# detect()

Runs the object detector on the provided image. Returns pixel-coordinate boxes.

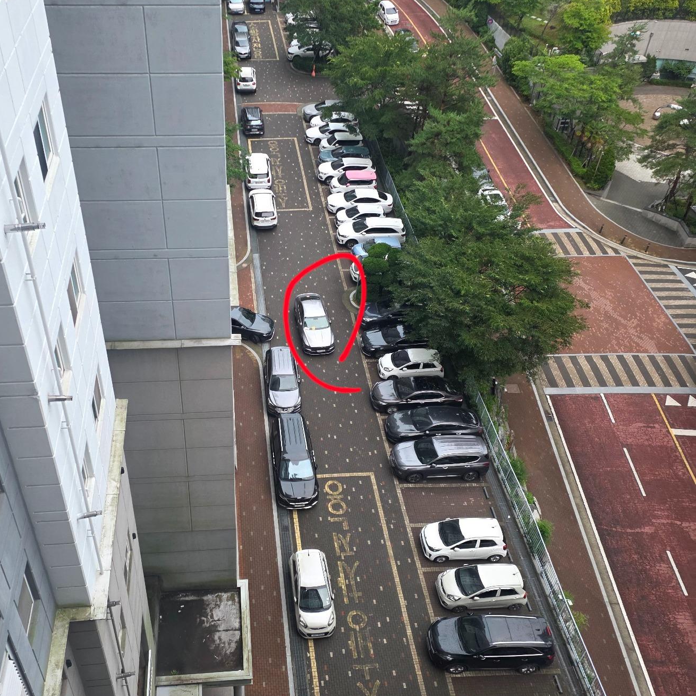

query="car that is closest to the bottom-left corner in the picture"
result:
[293,552,336,634]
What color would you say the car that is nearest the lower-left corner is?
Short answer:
white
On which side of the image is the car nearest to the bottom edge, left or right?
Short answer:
right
